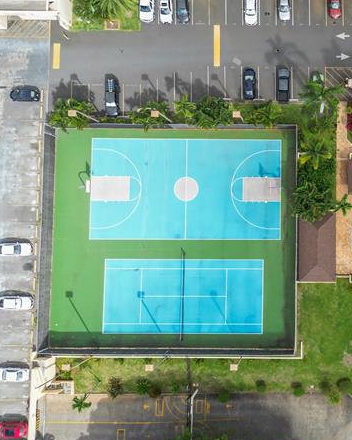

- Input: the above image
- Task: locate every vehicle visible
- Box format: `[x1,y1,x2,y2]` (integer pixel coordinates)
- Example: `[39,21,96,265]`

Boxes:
[243,0,258,26]
[0,366,31,384]
[157,0,173,24]
[0,296,36,312]
[276,0,290,22]
[327,0,341,20]
[241,68,256,101]
[0,421,29,440]
[0,241,34,258]
[174,0,190,24]
[9,86,41,102]
[274,68,289,102]
[102,76,120,115]
[137,0,154,22]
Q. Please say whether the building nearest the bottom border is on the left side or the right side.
right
